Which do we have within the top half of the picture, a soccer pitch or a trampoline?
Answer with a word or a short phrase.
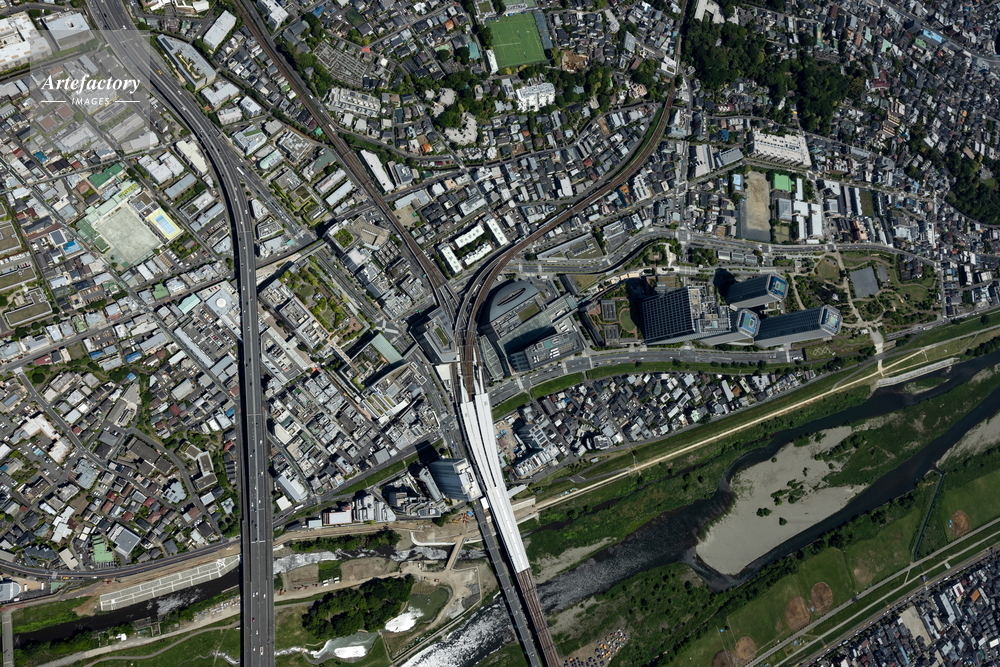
soccer pitch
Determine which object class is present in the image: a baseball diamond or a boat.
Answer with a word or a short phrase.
baseball diamond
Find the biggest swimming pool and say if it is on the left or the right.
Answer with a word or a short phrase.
left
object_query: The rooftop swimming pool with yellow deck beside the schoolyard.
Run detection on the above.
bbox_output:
[145,208,185,244]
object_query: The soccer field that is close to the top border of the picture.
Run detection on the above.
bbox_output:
[485,13,549,68]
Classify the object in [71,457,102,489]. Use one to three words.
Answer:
building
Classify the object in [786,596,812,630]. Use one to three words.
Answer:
baseball field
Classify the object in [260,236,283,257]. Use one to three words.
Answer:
building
